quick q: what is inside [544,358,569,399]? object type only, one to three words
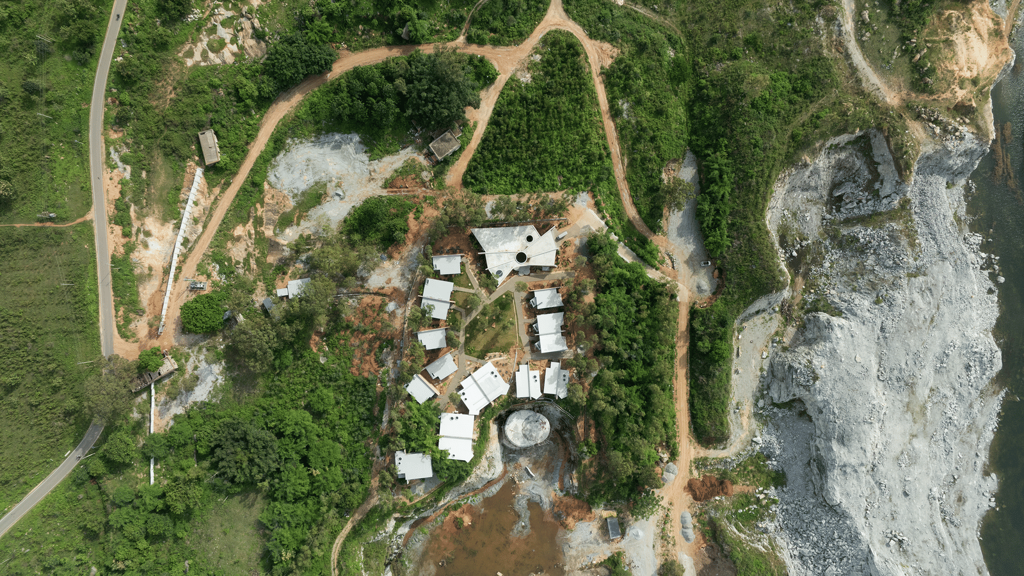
house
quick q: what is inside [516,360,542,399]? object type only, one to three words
house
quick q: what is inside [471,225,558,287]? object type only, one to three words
building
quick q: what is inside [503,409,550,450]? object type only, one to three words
building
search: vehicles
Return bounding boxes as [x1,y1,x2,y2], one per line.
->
[701,261,711,266]
[556,232,567,240]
